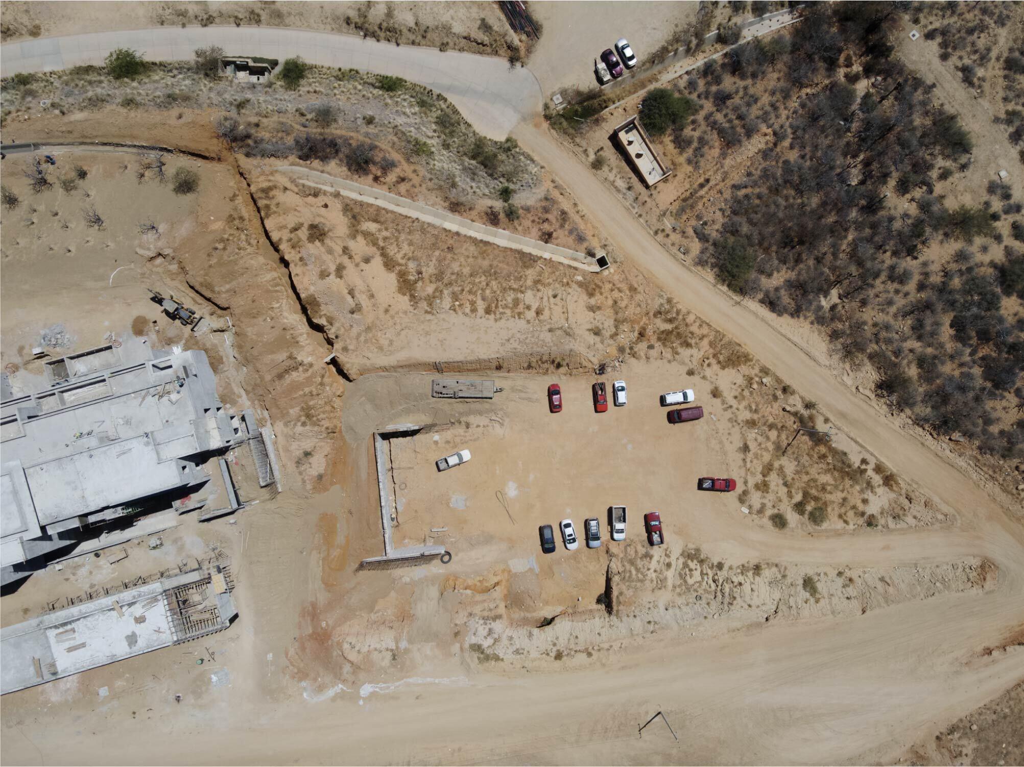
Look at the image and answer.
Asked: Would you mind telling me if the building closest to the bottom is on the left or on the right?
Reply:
left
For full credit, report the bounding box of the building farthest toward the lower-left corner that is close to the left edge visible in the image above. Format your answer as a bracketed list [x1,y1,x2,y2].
[0,334,258,586]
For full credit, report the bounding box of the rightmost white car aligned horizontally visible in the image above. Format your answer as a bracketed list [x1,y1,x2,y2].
[660,389,695,406]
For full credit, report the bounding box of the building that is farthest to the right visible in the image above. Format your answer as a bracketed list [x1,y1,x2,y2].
[613,115,672,191]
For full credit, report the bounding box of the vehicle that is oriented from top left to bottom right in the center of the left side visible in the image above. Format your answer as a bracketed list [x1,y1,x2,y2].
[145,287,204,333]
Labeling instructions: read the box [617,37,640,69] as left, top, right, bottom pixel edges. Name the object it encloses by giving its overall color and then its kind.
white car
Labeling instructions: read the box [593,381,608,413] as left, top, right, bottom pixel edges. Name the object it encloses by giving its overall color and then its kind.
red vehicle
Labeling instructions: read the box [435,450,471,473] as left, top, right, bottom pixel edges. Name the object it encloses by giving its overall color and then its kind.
white truck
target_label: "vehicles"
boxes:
[540,524,556,554]
[660,389,695,406]
[435,450,471,473]
[548,384,563,413]
[667,405,705,425]
[645,512,664,547]
[698,477,736,493]
[586,518,602,548]
[593,381,608,413]
[595,62,612,85]
[611,505,627,540]
[613,381,627,407]
[617,37,640,69]
[560,519,578,550]
[604,48,625,78]
[145,287,204,333]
